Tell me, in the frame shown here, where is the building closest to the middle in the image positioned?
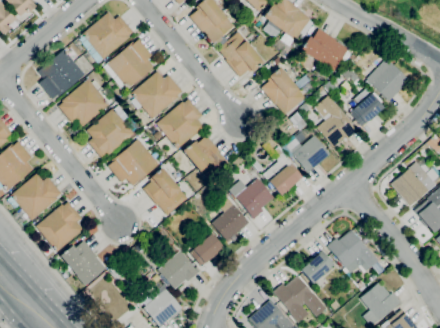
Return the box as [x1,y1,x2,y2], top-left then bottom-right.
[184,137,222,190]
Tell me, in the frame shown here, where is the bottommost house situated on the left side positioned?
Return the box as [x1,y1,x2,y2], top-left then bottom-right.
[144,286,180,326]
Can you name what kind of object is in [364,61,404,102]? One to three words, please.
house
